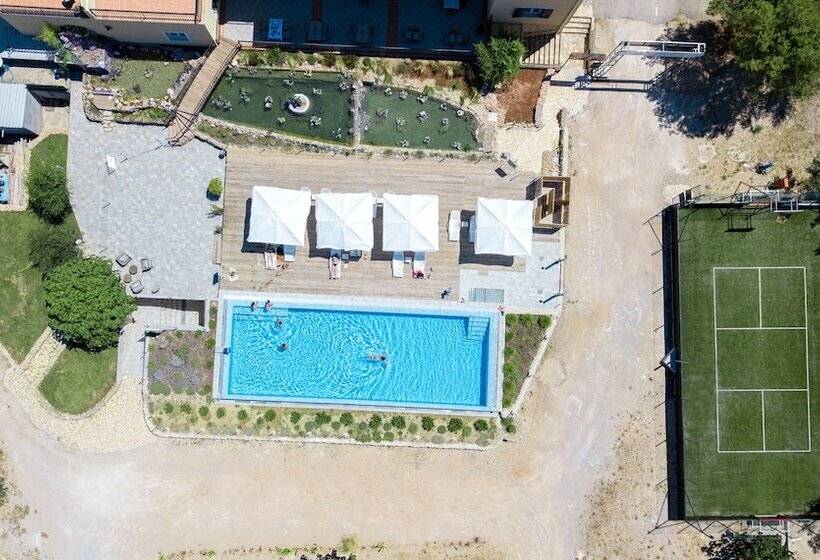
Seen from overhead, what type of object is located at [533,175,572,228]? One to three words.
building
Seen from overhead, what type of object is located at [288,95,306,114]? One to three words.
fountain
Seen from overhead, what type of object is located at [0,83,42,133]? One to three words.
shed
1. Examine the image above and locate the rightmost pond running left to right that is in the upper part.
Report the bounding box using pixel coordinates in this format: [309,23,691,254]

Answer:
[360,86,478,149]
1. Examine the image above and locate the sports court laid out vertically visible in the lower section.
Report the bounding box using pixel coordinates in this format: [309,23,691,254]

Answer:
[677,203,820,517]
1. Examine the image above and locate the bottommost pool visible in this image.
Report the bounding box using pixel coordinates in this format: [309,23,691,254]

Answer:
[212,290,504,415]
